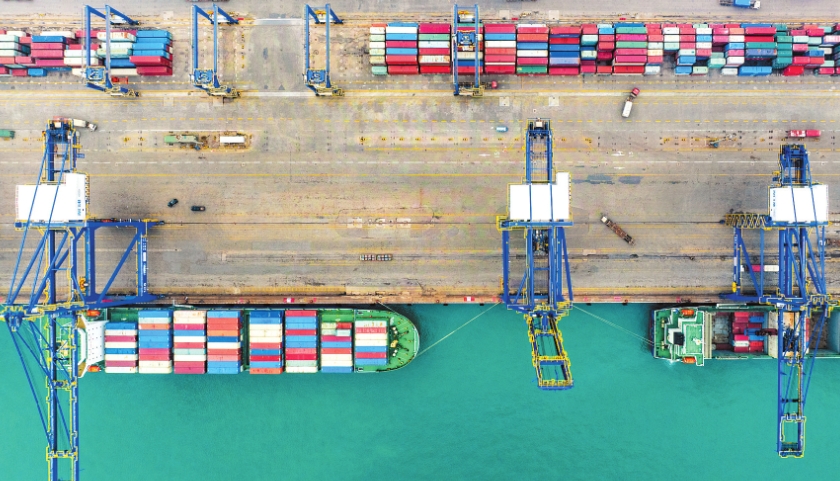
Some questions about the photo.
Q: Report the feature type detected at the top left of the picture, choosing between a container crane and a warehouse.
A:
container crane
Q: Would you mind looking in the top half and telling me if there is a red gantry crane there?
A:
No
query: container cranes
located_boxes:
[300,4,349,100]
[714,139,833,464]
[188,4,243,100]
[80,4,143,100]
[3,117,166,481]
[450,4,487,100]
[493,118,575,392]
